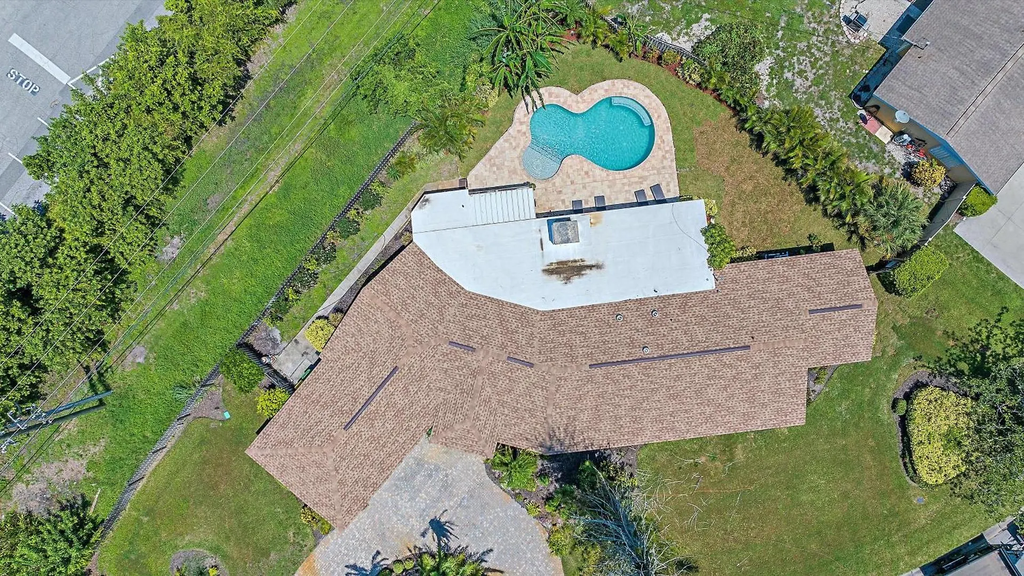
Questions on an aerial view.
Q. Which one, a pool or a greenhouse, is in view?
pool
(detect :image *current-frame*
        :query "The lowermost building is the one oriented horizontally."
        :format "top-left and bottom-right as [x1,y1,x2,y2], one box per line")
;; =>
[245,181,877,530]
